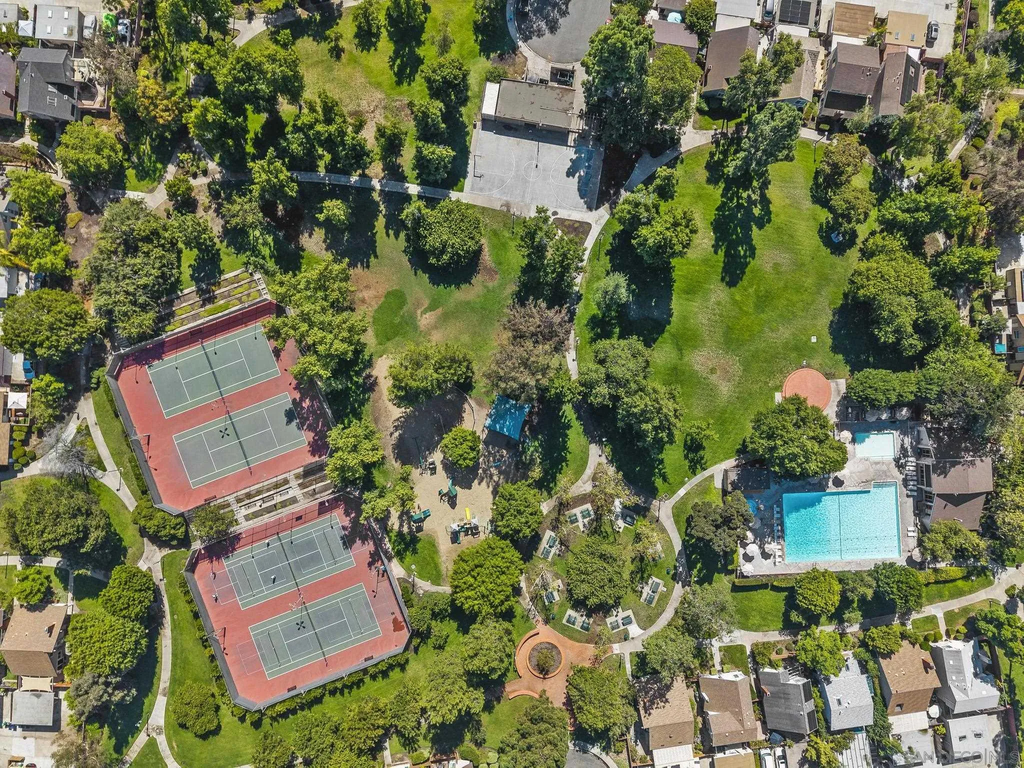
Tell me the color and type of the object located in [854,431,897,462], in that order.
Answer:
white swimming pool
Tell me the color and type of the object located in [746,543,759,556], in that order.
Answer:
white umbrella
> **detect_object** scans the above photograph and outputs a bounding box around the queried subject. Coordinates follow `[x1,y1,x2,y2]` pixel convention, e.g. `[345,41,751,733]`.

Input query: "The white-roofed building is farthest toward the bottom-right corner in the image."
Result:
[939,710,992,760]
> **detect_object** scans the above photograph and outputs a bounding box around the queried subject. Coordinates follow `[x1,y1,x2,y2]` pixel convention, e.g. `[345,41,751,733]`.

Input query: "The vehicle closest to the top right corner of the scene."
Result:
[927,17,941,41]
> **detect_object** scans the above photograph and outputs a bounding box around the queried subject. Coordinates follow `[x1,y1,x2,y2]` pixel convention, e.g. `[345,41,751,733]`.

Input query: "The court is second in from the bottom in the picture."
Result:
[194,496,384,630]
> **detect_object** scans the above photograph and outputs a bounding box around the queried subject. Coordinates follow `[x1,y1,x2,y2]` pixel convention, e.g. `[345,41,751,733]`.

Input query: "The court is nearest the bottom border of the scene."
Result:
[214,565,409,706]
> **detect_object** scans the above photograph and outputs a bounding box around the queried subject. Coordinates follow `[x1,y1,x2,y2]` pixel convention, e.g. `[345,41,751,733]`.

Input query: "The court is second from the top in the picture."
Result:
[116,301,302,438]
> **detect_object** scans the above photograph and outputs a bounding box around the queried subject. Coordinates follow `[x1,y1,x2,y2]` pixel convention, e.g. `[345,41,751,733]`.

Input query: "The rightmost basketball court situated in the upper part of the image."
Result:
[469,118,605,210]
